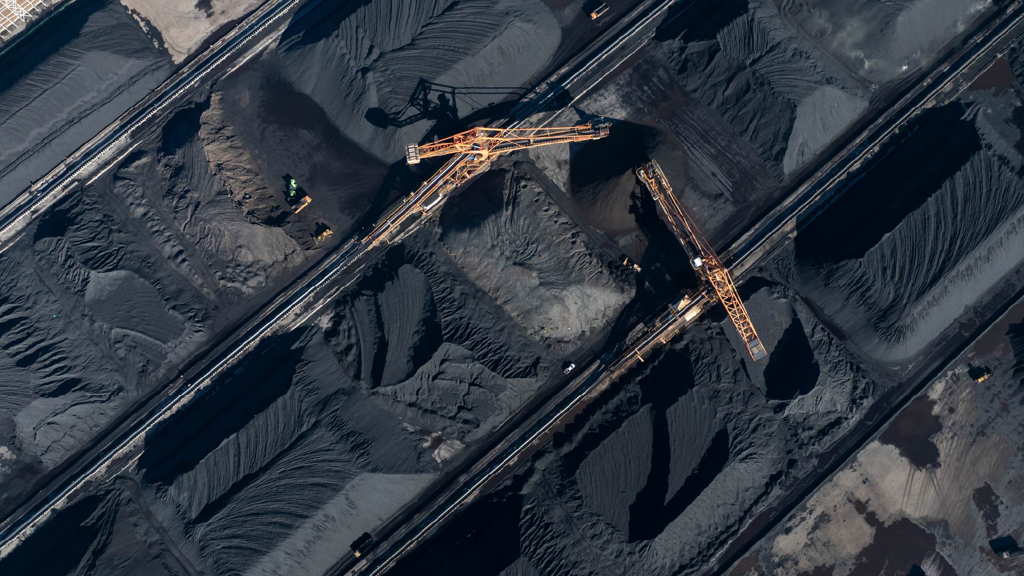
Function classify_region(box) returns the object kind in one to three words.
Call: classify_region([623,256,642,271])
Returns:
work vehicle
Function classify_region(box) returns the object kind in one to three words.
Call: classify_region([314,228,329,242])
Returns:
work vehicle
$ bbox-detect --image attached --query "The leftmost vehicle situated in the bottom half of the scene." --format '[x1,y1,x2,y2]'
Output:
[353,537,374,555]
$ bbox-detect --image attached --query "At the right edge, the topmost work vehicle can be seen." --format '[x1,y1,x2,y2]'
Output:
[974,372,992,385]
